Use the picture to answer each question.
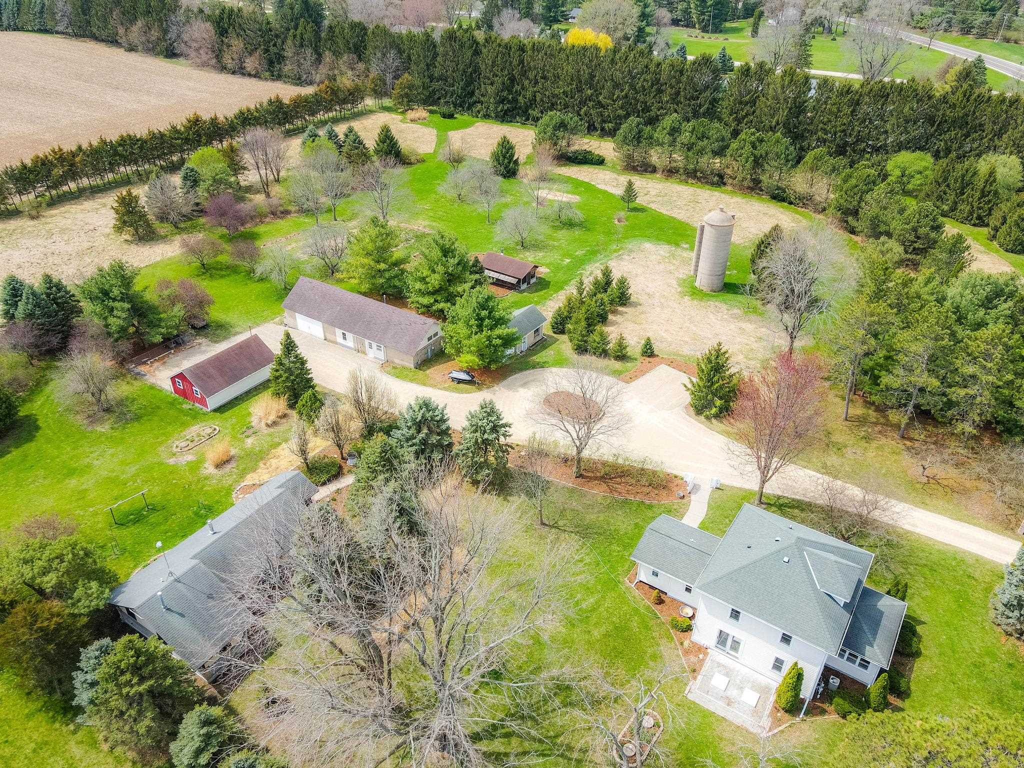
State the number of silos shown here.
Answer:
1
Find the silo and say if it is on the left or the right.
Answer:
right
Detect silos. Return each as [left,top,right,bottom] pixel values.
[690,205,741,292]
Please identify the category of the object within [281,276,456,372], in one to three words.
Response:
building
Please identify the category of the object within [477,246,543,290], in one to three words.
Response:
shed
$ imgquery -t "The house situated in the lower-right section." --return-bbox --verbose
[630,502,910,726]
